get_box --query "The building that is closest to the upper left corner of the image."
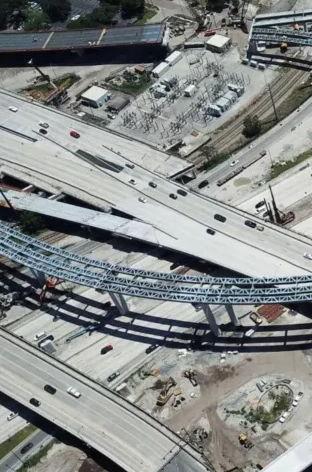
[79,86,112,113]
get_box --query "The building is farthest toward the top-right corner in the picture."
[205,33,233,54]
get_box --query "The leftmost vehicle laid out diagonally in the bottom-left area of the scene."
[2,409,20,422]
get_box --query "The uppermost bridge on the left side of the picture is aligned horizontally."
[0,23,175,61]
